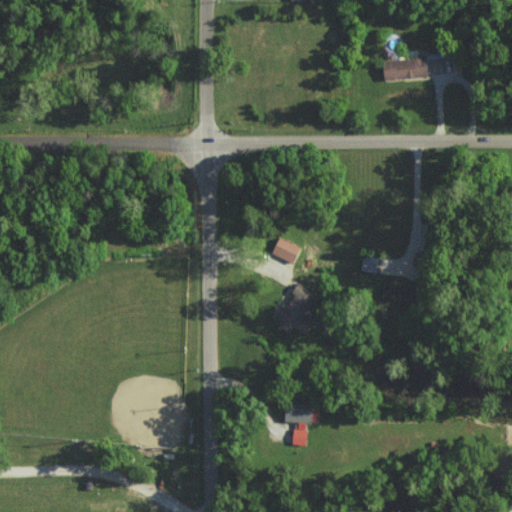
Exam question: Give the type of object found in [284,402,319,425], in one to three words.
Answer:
house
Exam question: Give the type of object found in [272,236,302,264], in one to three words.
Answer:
building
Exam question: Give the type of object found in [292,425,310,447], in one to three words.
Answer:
building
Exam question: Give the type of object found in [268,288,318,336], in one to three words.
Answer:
house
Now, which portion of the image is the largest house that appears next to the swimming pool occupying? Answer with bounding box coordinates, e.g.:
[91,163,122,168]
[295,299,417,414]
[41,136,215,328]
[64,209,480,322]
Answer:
[384,58,429,84]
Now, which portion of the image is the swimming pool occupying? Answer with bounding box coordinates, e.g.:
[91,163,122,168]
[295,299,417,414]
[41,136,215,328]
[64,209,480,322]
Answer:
[384,37,400,60]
